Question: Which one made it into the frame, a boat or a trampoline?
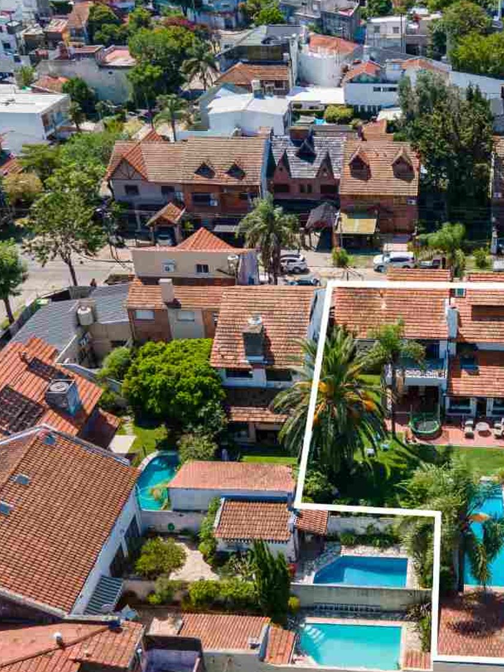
trampoline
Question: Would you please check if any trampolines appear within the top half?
No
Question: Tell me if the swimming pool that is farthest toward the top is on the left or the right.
left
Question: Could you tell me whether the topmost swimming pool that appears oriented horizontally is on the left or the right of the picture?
right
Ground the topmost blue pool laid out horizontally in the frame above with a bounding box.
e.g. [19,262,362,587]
[316,555,412,582]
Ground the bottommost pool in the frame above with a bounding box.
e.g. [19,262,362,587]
[297,623,403,667]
